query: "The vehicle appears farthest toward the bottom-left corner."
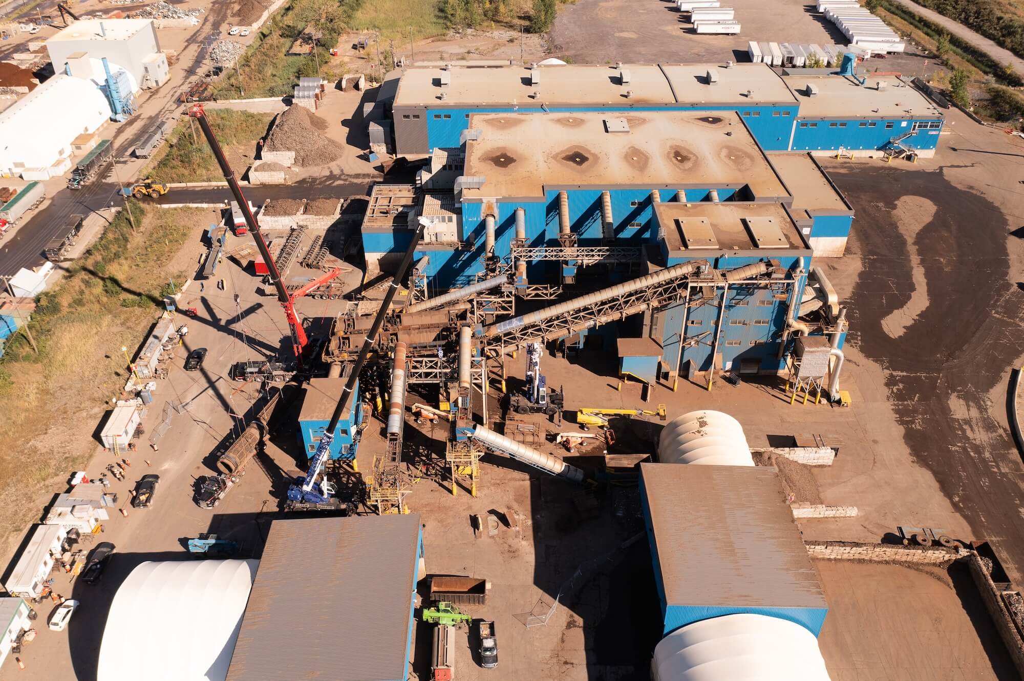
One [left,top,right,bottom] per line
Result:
[43,594,81,631]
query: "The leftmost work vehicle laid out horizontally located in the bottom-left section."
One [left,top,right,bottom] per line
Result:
[181,530,259,561]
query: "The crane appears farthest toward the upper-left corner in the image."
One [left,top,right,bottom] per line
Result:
[186,96,344,396]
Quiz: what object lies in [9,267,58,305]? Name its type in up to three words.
shed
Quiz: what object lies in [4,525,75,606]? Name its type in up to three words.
building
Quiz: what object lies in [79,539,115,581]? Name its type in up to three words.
truck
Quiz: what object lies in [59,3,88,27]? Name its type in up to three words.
work vehicle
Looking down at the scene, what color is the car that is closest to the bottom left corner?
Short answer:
white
